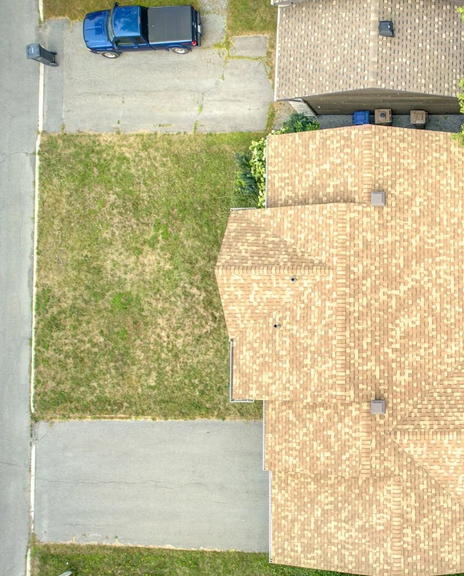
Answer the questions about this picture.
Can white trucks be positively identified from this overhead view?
No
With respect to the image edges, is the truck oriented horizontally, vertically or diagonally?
horizontally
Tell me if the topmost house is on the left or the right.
right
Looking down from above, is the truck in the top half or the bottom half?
top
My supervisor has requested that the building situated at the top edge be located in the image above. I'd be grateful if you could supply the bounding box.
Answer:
[268,0,464,114]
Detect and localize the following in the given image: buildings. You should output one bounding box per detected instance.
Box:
[268,0,464,114]
[216,124,464,576]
